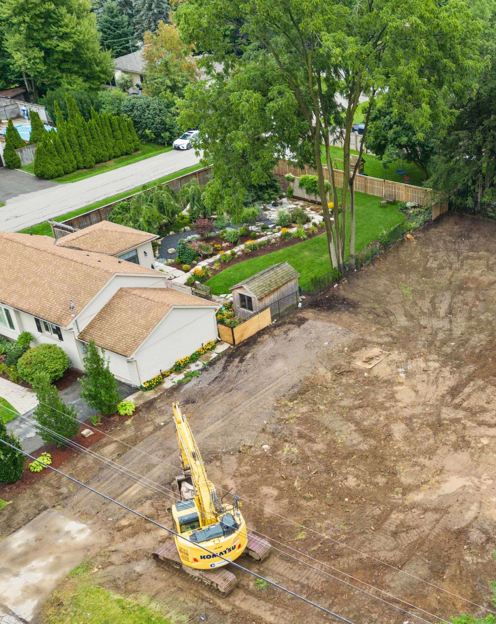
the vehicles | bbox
[171,133,207,150]
[154,397,270,595]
